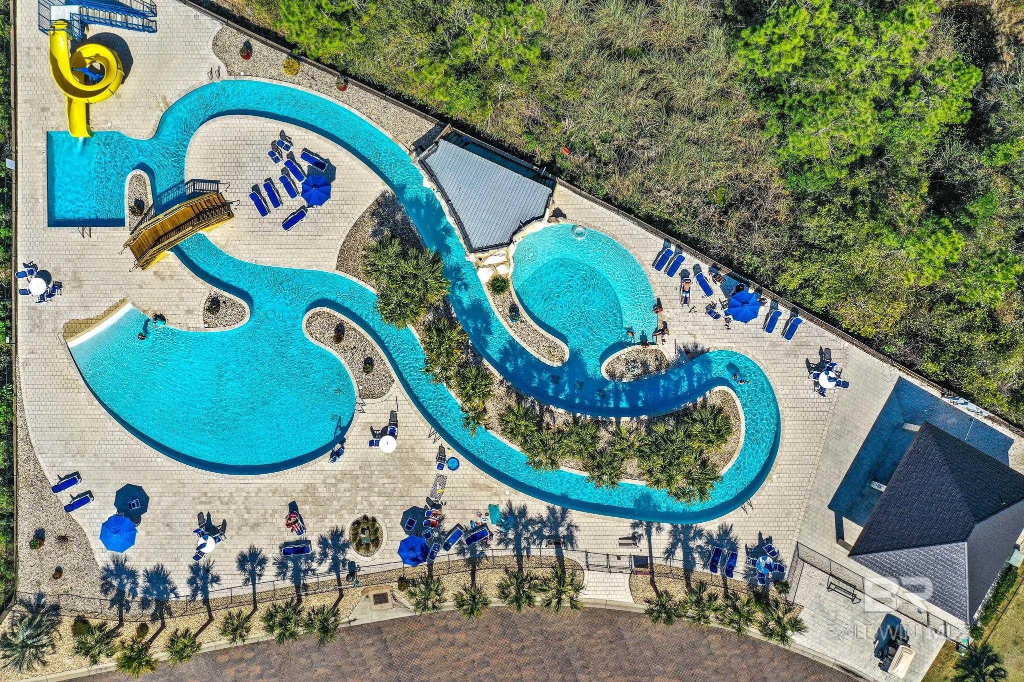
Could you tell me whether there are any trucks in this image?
No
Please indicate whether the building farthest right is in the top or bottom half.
bottom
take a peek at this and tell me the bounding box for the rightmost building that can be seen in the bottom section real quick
[842,421,1024,627]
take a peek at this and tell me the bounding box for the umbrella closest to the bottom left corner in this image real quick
[103,513,142,551]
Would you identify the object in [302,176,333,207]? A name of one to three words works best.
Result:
umbrella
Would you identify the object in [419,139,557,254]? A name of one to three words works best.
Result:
building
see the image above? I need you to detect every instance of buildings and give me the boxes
[419,139,557,254]
[842,421,1024,627]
